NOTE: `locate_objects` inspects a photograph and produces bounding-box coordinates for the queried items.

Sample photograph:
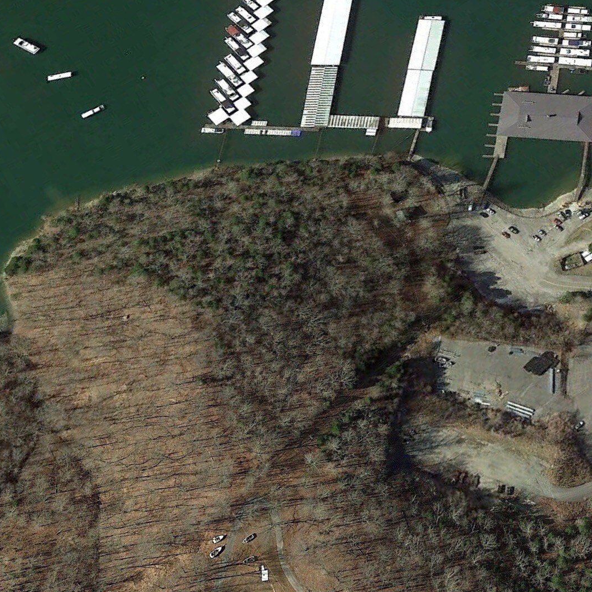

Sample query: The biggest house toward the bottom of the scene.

[524,353,556,375]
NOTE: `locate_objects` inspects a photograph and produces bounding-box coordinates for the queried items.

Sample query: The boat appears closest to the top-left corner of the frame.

[14,37,41,56]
